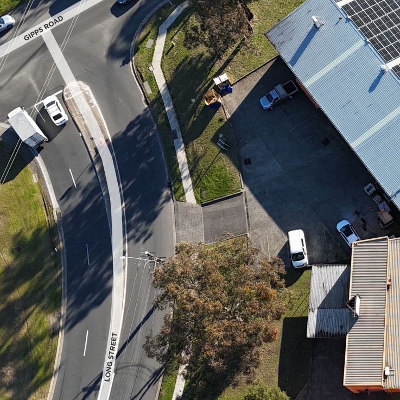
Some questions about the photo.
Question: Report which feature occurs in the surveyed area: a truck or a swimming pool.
truck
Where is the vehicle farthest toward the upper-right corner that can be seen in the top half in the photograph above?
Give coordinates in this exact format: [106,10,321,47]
[260,81,298,108]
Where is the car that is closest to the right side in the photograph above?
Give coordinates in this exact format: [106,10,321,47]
[338,219,361,249]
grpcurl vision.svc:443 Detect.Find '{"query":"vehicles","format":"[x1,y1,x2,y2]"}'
[44,97,68,125]
[260,81,298,108]
[0,17,17,34]
[7,106,45,150]
[338,219,361,249]
[288,227,308,269]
